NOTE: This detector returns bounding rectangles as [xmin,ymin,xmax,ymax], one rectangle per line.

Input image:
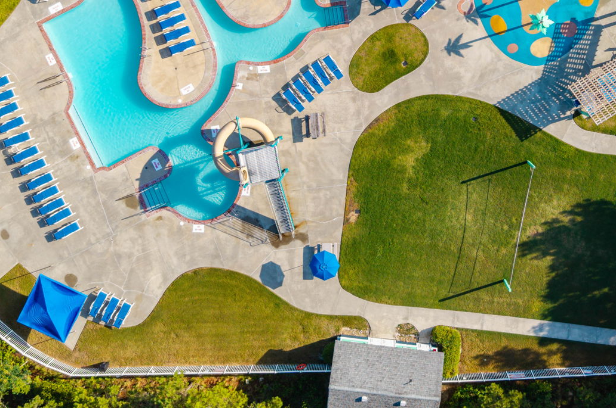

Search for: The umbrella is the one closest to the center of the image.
[308,246,343,280]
